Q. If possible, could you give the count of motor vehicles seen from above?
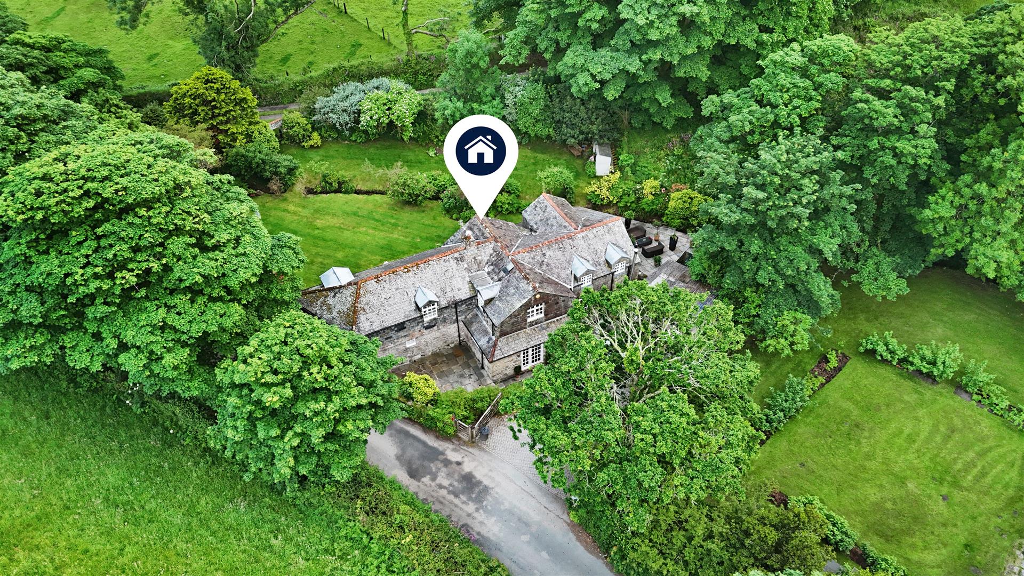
0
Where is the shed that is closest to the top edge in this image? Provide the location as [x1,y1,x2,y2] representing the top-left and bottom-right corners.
[590,139,613,175]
